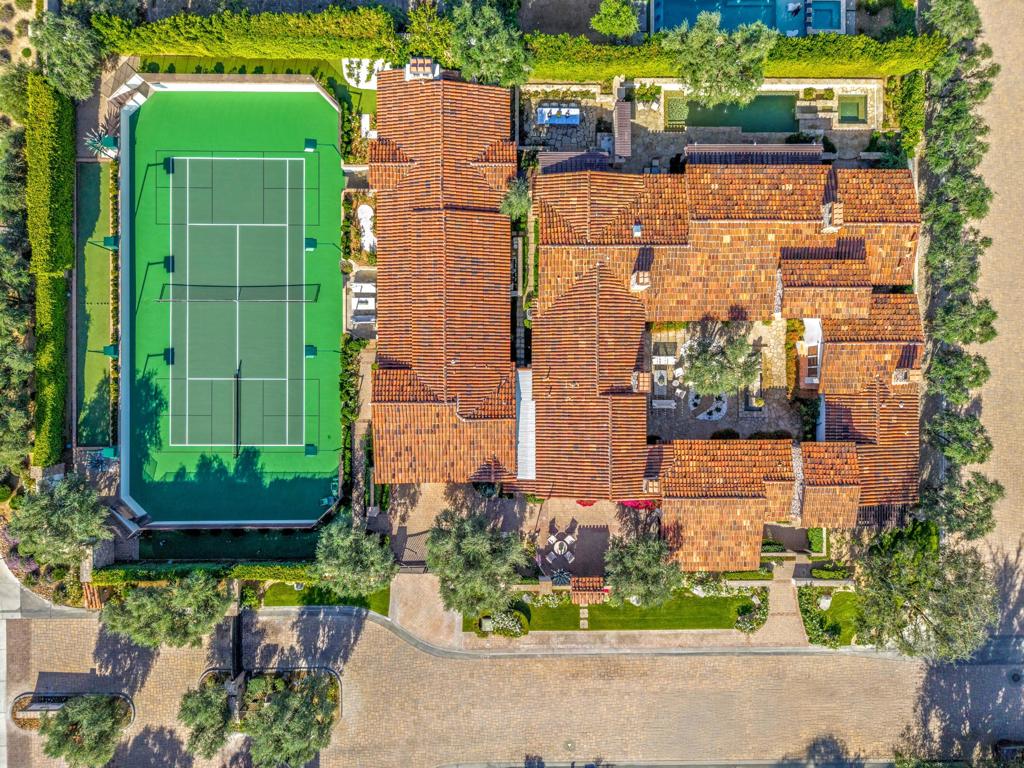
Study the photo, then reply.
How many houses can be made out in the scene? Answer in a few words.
2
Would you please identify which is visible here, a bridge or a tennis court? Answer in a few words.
tennis court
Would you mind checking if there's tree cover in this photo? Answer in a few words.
Yes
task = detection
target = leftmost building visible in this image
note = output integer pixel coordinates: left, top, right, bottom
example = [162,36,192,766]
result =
[368,57,518,484]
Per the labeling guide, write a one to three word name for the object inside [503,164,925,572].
house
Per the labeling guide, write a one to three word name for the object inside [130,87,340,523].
tennis court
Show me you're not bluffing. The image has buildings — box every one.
[368,57,518,484]
[503,164,925,572]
